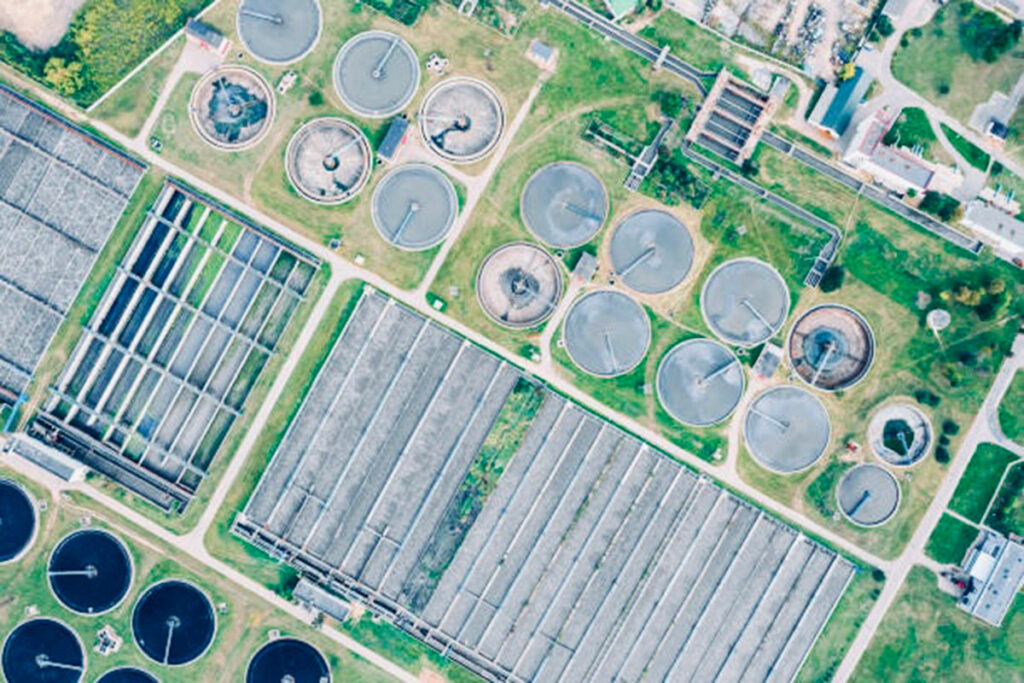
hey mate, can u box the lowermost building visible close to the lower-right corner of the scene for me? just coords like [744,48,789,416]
[953,528,1024,628]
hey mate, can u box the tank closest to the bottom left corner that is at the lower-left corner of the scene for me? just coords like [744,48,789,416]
[1,616,87,683]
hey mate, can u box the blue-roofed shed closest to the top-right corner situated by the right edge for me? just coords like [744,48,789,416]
[986,120,1010,141]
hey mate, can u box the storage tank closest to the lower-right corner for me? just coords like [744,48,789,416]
[835,462,900,527]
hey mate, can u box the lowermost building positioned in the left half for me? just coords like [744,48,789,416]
[291,575,354,623]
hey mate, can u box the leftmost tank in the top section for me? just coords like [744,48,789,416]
[188,65,275,152]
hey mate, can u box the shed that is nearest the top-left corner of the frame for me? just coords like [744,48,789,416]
[185,20,230,57]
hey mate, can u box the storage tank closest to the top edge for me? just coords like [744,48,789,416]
[237,0,322,65]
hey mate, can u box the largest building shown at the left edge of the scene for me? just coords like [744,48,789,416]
[11,432,90,482]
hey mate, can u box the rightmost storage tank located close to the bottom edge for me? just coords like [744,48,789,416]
[244,636,332,683]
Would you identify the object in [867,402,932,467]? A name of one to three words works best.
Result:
storage tank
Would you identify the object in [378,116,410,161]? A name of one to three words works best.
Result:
shed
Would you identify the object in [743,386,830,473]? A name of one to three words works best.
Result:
storage tank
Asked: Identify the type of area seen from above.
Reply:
industrial area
